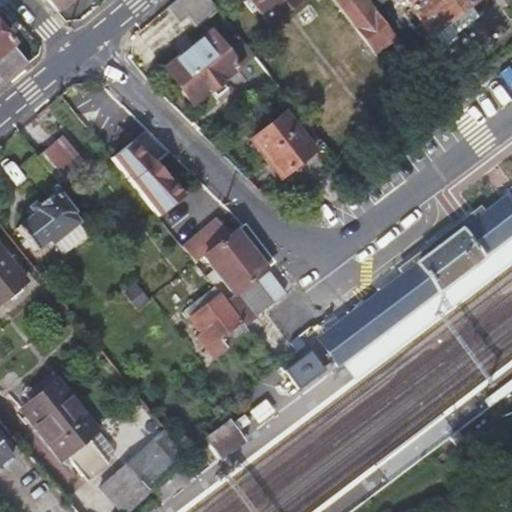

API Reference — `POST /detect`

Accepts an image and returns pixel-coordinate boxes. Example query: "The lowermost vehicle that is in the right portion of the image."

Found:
[298,269,320,288]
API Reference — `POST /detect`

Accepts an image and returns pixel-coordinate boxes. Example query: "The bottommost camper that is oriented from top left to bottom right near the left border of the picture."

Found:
[0,158,28,188]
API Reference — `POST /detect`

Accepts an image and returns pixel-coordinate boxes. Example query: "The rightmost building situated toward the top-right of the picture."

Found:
[410,0,480,45]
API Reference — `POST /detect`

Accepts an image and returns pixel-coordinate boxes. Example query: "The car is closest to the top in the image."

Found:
[18,8,36,28]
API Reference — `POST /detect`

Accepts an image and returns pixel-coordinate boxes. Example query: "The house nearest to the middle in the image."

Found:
[184,216,286,324]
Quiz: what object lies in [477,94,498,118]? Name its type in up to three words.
vehicle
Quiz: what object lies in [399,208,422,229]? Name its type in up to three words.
car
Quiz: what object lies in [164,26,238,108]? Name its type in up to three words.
house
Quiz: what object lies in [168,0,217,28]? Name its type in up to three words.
building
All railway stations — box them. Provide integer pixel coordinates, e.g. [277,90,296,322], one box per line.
[318,187,512,389]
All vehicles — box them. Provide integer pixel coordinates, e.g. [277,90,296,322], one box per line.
[424,135,440,155]
[18,8,36,28]
[376,172,394,190]
[396,156,413,176]
[340,219,361,236]
[399,208,422,229]
[298,269,320,288]
[28,482,49,500]
[489,80,512,108]
[178,218,198,238]
[468,104,486,126]
[103,64,130,84]
[477,94,498,118]
[356,243,378,262]
[376,228,400,250]
[0,158,28,188]
[500,64,512,88]
[322,204,340,224]
[166,202,188,222]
